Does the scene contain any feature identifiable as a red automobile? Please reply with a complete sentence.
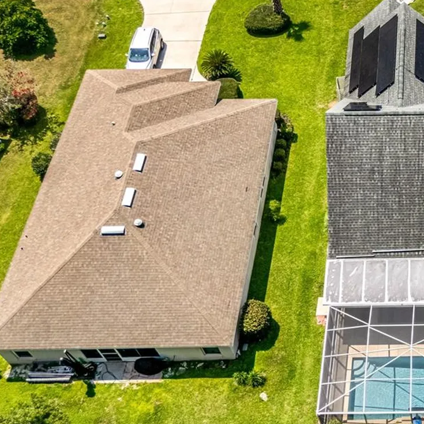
No, this view has no red automobile in it.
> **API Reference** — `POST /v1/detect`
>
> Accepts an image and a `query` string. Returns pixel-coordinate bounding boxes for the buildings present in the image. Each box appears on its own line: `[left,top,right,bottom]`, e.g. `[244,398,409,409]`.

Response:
[0,68,280,363]
[317,0,424,310]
